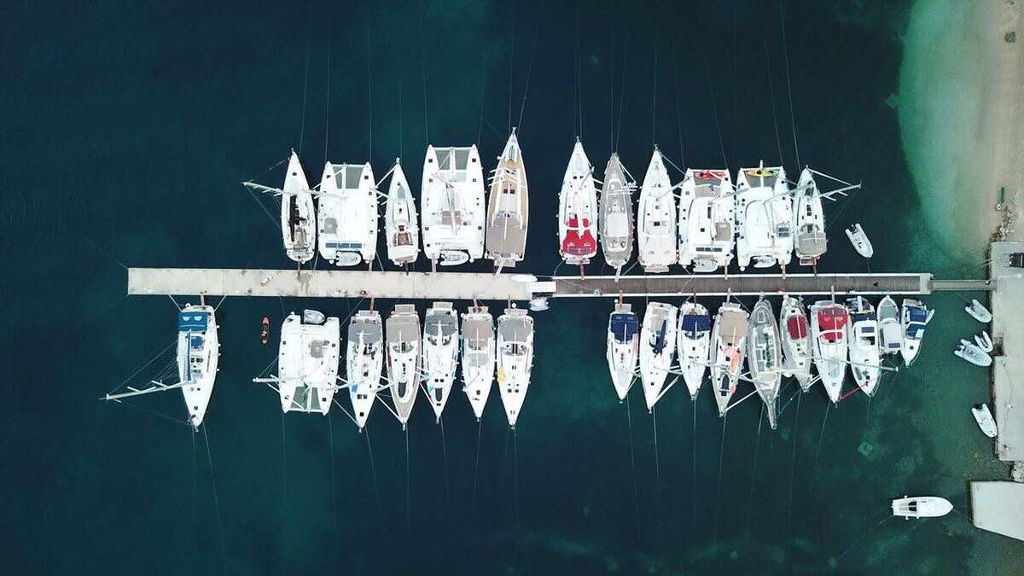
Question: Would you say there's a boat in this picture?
Yes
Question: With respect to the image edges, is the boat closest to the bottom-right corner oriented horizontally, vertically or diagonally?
horizontally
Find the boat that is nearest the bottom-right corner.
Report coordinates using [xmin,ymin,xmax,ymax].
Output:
[887,496,958,519]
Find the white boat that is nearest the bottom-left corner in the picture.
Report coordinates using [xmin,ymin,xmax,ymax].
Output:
[99,303,223,430]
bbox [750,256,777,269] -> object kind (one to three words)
boat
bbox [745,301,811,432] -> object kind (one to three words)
vessel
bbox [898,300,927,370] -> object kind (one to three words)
boat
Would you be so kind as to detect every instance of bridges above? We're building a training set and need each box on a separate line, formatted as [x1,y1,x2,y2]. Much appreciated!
[927,279,996,292]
